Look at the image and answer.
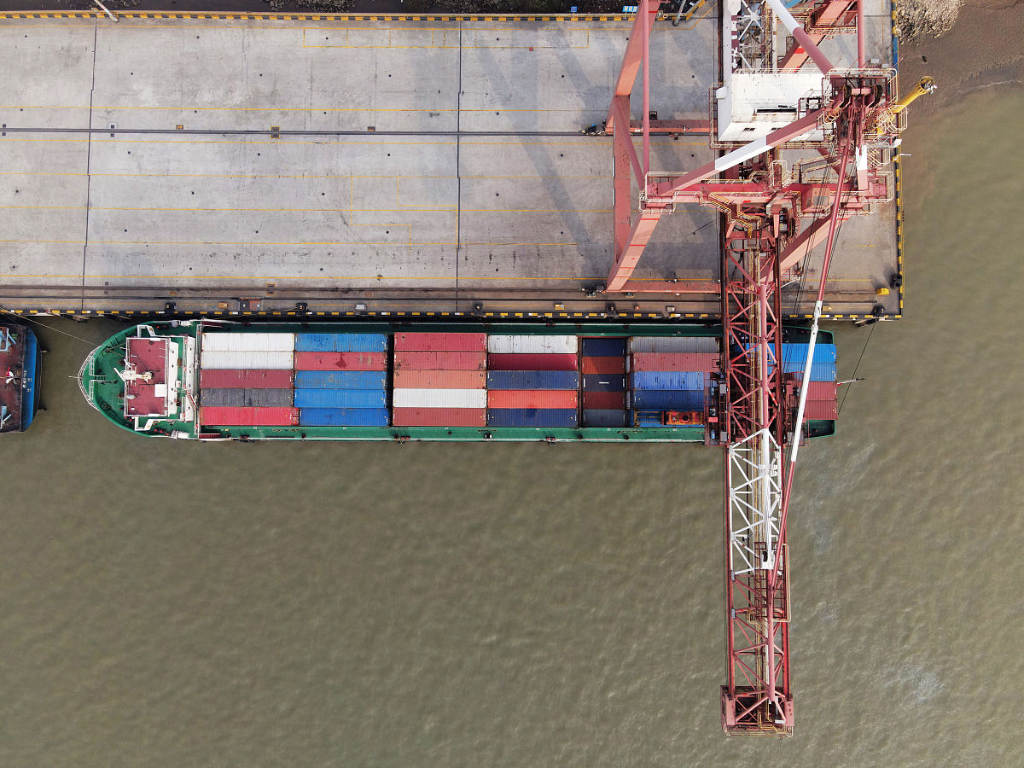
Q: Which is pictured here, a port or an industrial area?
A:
port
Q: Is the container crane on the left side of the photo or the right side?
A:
right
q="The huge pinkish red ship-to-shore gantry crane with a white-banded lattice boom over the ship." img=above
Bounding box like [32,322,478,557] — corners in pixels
[578,0,931,733]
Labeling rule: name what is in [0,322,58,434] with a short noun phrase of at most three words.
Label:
ship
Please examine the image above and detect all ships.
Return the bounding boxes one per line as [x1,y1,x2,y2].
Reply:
[67,322,871,442]
[0,322,58,434]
